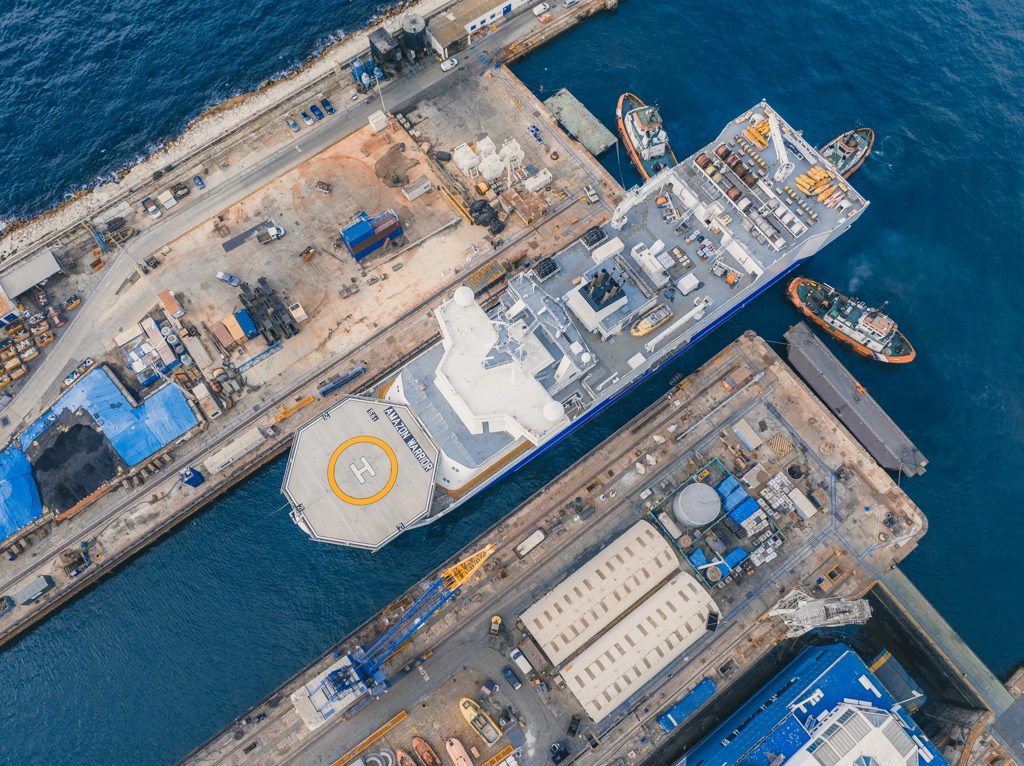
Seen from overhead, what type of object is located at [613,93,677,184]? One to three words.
boat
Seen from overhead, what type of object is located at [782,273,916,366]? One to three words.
boat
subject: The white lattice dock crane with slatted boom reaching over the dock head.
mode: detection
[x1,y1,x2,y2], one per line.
[757,589,871,644]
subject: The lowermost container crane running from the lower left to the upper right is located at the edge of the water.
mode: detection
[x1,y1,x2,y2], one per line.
[290,541,499,731]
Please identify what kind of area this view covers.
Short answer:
port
